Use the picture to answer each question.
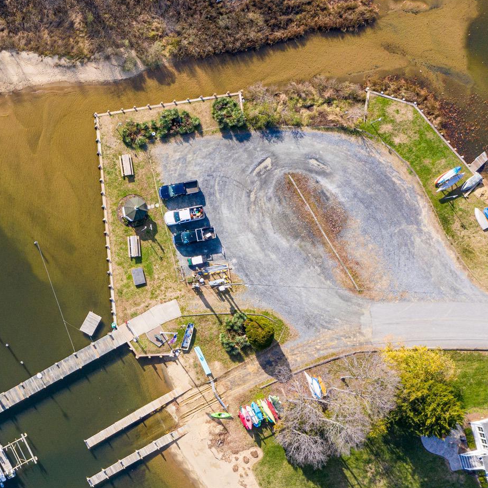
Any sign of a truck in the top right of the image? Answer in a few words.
No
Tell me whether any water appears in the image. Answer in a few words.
Yes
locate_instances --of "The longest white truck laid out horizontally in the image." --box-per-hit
[162,206,206,227]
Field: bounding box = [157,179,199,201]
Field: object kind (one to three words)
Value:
truck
